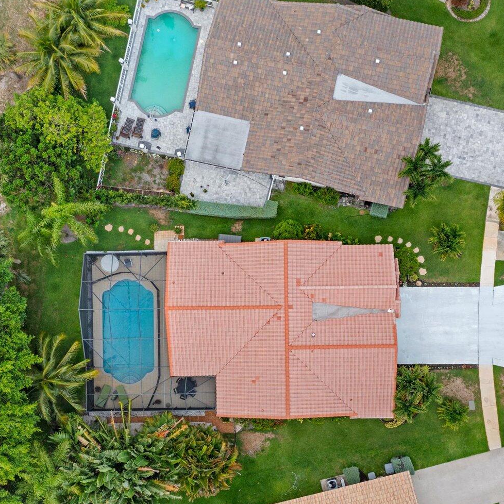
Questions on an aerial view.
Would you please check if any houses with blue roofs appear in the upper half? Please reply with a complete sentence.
No, no house with a blue roof is visible in the upper half.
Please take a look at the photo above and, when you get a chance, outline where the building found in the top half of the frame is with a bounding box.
[184,0,445,209]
